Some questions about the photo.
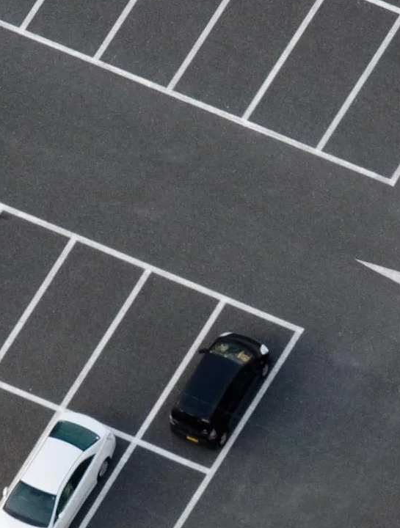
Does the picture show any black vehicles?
Yes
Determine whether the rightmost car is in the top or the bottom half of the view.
bottom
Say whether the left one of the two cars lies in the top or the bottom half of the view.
bottom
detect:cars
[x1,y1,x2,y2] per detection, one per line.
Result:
[171,334,272,450]
[0,414,114,528]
